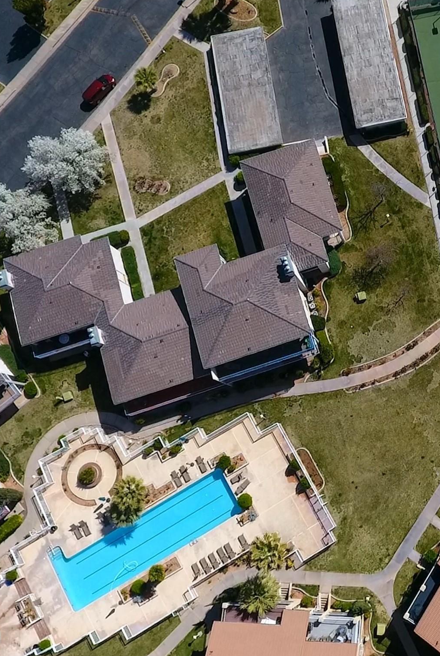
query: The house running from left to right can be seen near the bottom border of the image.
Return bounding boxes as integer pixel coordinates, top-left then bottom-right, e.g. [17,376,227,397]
[205,584,367,656]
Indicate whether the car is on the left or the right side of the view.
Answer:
left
